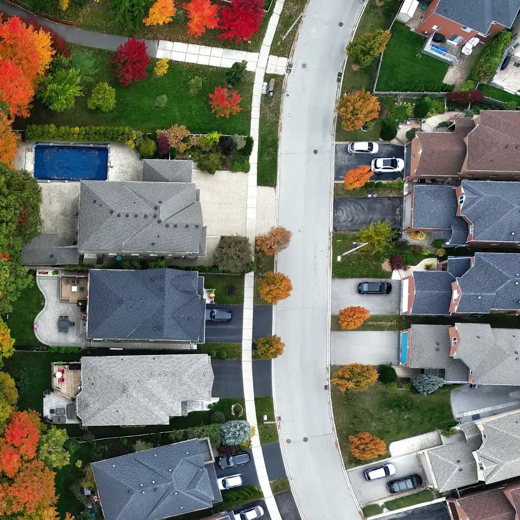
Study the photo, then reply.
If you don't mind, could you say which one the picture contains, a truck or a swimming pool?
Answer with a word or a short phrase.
swimming pool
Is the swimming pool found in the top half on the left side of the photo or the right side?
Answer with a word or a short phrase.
left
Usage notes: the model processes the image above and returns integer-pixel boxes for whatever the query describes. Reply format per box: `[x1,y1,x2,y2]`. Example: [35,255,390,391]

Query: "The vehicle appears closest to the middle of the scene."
[206,306,237,323]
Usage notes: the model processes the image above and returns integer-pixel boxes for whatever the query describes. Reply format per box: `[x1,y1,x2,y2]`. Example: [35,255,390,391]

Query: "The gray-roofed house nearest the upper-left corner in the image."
[21,159,208,265]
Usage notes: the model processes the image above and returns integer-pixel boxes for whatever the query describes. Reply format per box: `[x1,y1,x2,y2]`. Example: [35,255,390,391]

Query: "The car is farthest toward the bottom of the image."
[235,504,265,520]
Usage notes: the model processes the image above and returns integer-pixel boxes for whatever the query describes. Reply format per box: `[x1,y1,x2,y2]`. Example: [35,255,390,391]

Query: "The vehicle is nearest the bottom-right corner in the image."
[385,474,422,494]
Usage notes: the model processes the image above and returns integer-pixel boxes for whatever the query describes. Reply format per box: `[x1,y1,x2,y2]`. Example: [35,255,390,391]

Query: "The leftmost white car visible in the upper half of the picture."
[346,139,378,156]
